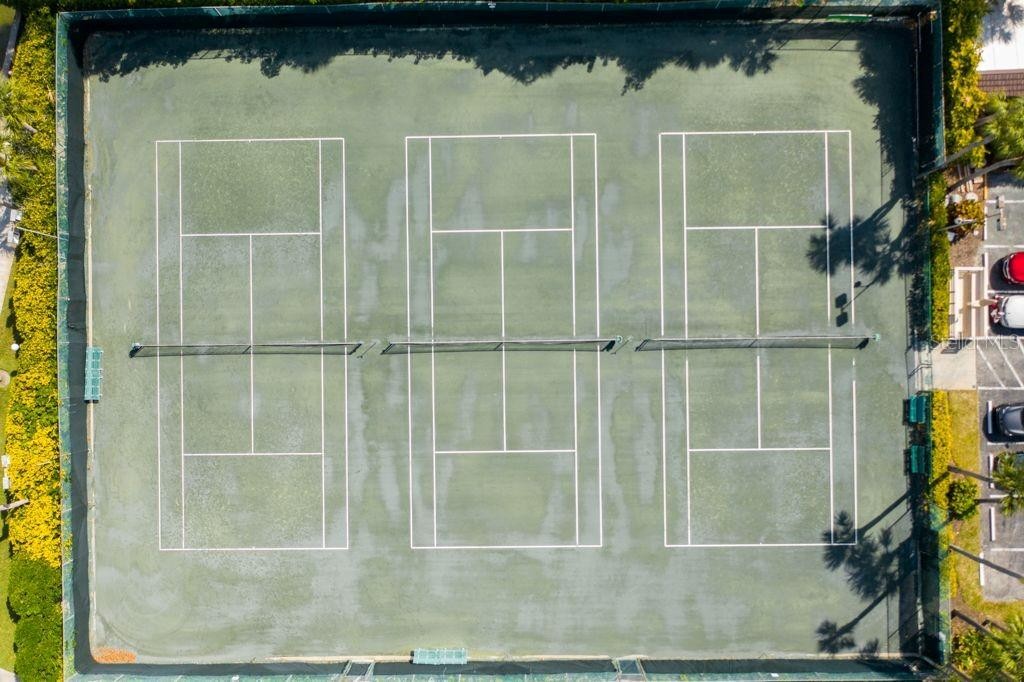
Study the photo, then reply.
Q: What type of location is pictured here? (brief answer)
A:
sports ground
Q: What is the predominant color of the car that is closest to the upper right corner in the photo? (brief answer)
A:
red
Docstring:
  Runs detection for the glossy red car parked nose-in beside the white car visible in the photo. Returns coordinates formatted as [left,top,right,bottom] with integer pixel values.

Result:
[999,251,1024,285]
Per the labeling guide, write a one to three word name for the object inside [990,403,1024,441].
car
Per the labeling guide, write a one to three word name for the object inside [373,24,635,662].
tennis court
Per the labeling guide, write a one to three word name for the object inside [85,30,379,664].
tennis court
